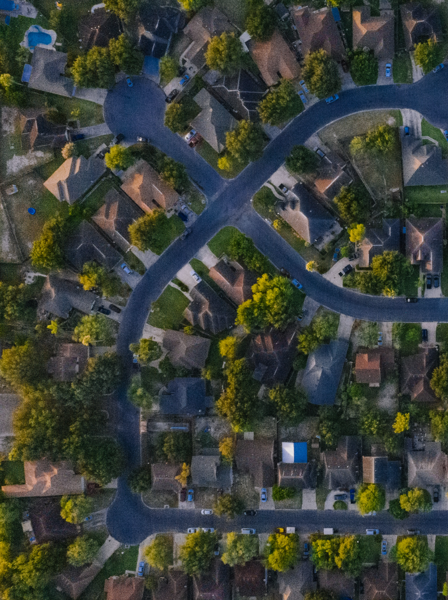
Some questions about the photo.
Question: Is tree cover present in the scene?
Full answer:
Yes, there is tree cover in the image.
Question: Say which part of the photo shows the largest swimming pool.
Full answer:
The largest swimming pool appears toward the top left of the photo.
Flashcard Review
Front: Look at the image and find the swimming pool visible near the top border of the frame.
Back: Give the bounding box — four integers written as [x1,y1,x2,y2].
[21,24,56,48]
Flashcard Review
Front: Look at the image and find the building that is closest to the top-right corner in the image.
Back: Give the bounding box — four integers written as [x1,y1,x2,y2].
[398,2,441,46]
